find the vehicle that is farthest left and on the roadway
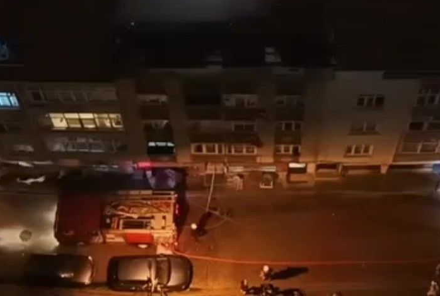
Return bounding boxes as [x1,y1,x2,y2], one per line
[21,251,102,295]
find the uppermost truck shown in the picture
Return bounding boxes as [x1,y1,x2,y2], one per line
[56,192,189,258]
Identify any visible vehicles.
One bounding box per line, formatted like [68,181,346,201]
[21,251,102,295]
[104,253,193,296]
[56,192,189,258]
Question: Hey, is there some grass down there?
No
